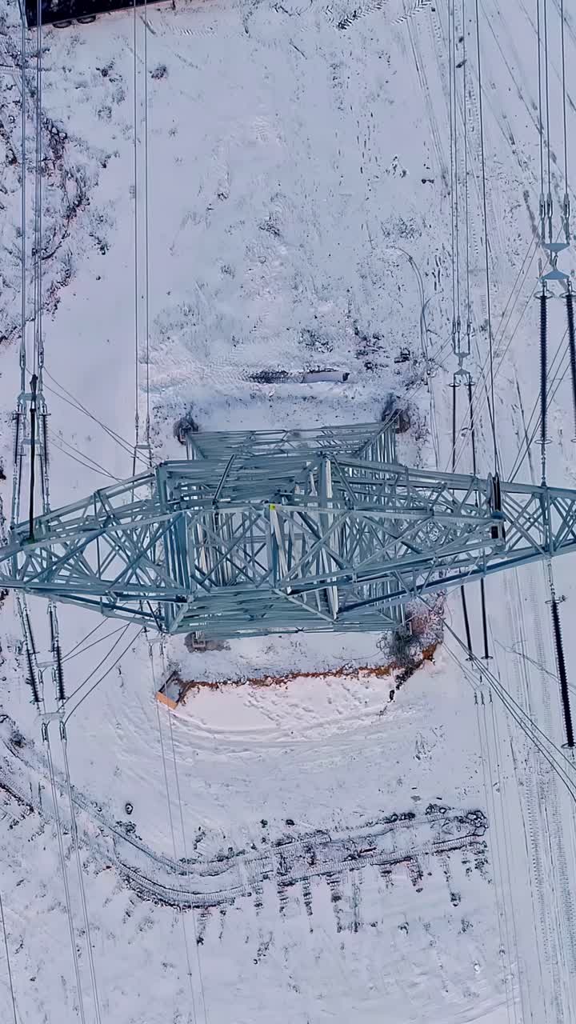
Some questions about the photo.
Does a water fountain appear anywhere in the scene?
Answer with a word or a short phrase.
No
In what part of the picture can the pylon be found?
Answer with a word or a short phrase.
center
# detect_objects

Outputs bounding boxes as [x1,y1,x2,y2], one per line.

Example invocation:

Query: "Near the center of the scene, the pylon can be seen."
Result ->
[0,416,576,639]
